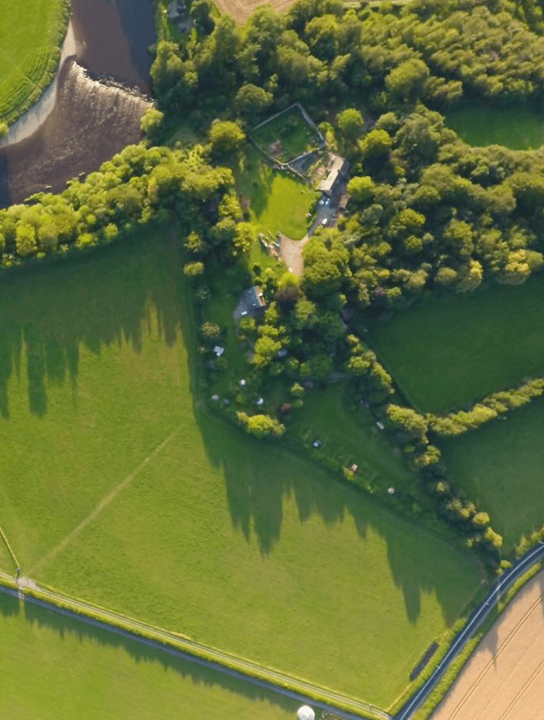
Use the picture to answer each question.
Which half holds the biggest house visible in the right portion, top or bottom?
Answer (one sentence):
The top half of the photo is where the biggest house visible in the right portion is.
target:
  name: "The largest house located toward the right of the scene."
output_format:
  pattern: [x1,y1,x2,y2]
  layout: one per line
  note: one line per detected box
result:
[316,153,351,192]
